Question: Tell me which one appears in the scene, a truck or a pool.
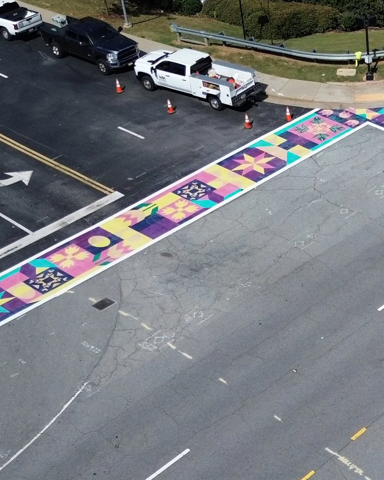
truck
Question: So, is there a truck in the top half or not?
Yes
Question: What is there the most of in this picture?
paved ground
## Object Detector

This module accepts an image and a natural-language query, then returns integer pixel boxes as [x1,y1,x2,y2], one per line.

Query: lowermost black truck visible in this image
[40,21,141,72]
